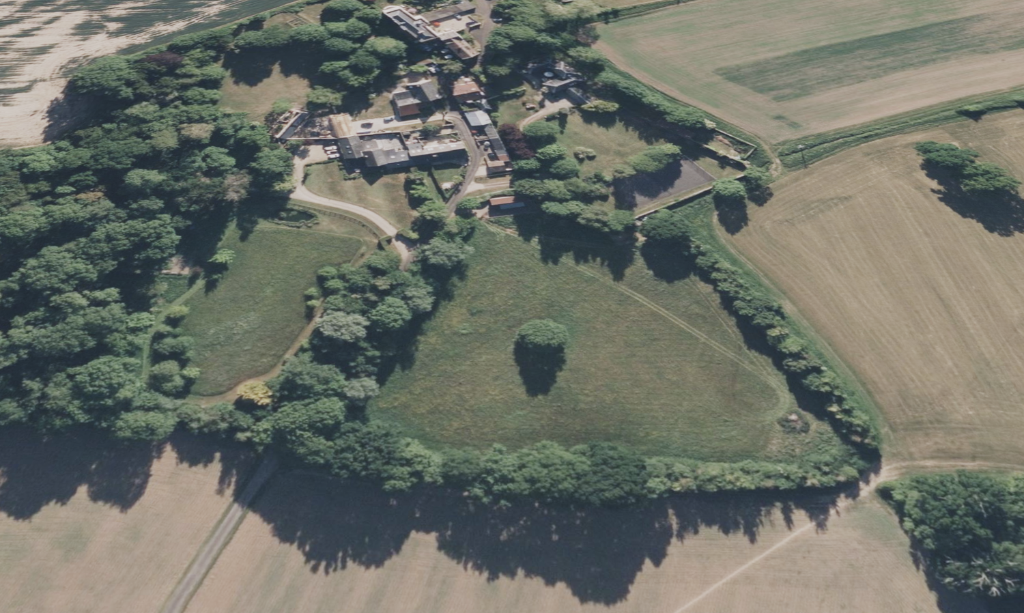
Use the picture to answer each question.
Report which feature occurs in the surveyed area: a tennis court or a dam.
tennis court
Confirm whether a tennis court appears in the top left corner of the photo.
No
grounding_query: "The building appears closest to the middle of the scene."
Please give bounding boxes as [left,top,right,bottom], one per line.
[489,194,525,213]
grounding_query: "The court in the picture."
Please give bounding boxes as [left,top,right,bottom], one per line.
[615,159,713,212]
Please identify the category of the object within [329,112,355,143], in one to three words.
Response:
barn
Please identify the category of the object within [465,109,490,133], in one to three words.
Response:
barn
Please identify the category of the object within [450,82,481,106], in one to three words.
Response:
house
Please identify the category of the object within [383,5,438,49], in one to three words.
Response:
house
